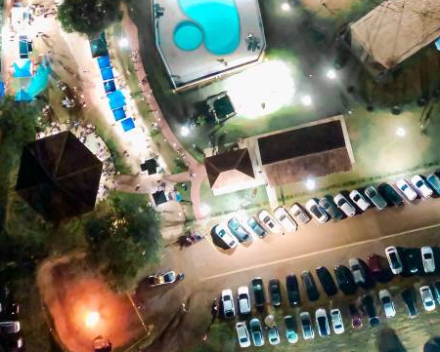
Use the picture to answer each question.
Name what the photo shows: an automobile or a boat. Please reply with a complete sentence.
Looking from above, you can make out an automobile.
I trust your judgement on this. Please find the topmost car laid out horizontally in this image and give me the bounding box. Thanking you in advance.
[148,269,184,287]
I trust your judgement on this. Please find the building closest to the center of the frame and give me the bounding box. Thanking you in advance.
[205,149,256,195]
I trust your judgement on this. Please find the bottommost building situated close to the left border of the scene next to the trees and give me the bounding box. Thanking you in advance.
[16,131,104,222]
